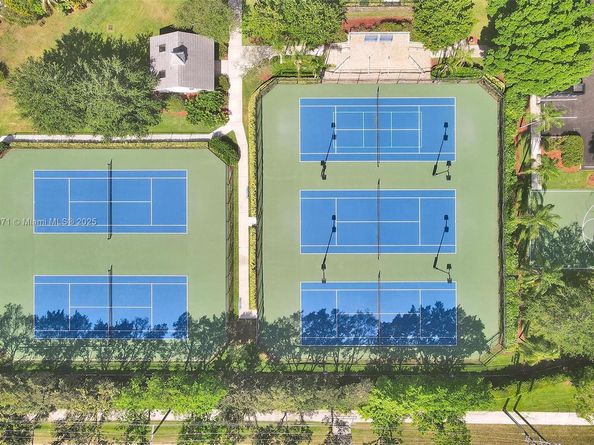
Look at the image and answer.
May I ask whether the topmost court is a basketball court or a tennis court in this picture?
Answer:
tennis court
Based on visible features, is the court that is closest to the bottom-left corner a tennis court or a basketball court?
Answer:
tennis court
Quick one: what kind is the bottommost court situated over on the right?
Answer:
tennis court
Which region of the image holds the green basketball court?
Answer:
right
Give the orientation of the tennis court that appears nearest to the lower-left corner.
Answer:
horizontally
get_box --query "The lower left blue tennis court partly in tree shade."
[34,270,187,347]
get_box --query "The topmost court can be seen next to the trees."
[300,90,456,167]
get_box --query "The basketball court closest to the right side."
[531,190,594,270]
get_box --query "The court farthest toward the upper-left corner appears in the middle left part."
[34,163,187,240]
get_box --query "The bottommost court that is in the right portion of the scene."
[301,276,457,354]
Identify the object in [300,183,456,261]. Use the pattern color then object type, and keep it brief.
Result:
blue tennis court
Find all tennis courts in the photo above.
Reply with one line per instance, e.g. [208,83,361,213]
[301,276,457,354]
[34,270,187,347]
[300,183,456,261]
[300,90,456,167]
[34,163,187,240]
